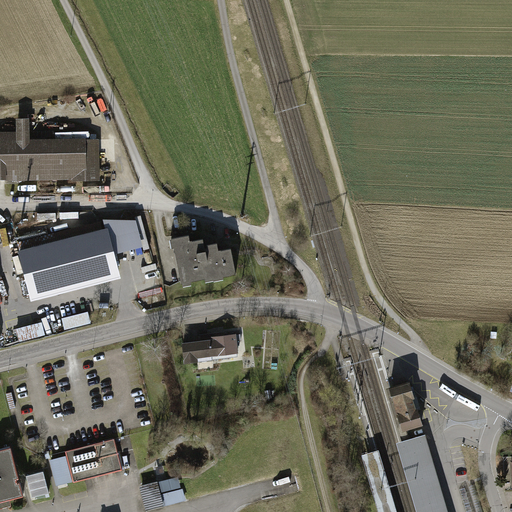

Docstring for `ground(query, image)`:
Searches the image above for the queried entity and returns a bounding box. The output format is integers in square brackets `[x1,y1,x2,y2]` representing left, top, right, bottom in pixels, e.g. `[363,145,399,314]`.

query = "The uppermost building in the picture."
[0,118,100,181]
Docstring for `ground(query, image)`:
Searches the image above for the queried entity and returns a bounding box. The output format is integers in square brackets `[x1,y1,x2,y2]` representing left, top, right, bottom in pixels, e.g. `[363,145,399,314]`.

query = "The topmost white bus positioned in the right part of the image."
[440,384,480,411]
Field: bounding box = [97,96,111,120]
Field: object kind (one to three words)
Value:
vehicle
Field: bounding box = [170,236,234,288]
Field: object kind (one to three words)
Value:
building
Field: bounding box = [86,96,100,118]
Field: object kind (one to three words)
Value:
vehicle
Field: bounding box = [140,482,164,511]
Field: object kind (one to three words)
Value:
shed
